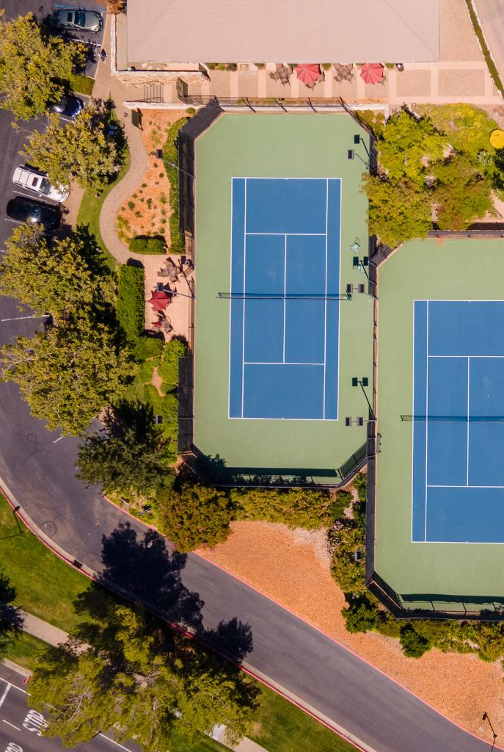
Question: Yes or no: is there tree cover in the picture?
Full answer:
Yes, some tree cover is visible.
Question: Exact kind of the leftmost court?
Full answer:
The leftmost court is a tennis court.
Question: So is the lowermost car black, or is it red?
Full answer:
In this view, the lowermost car is black.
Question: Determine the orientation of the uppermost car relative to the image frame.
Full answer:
What the image shows is the uppermost car lying from left to right.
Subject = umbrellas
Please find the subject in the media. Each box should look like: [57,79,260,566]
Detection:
[361,62,385,85]
[152,290,174,312]
[154,318,170,330]
[296,62,321,87]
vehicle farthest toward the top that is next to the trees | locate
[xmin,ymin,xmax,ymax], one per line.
[53,9,104,36]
